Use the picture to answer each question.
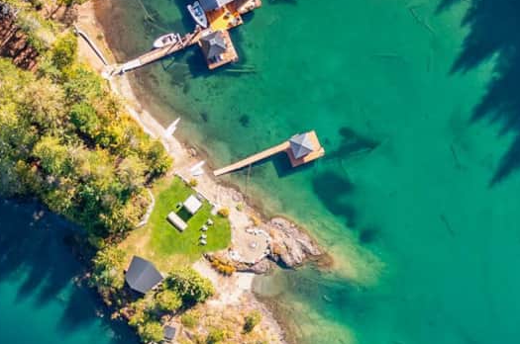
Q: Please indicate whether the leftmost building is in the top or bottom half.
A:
bottom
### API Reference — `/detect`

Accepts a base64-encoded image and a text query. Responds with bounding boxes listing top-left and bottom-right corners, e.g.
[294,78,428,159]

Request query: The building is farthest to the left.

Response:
[127,255,166,296]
